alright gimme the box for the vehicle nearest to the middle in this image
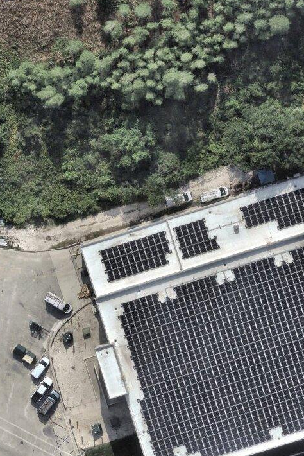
[165,190,192,205]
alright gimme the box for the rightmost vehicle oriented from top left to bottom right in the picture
[43,291,70,314]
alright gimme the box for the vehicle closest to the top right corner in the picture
[200,187,228,203]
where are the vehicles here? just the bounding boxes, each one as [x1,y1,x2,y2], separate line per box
[30,357,49,381]
[43,291,70,314]
[30,378,51,405]
[37,389,58,415]
[165,190,192,205]
[200,187,228,203]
